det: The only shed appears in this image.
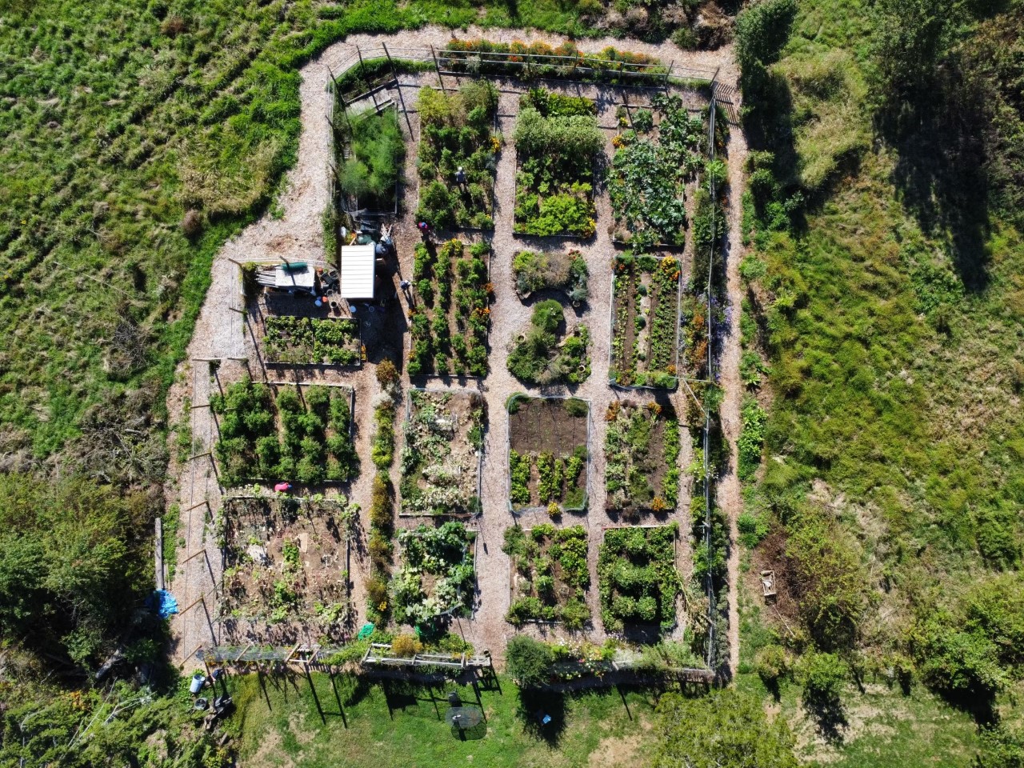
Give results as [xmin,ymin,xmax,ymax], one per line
[341,245,385,302]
